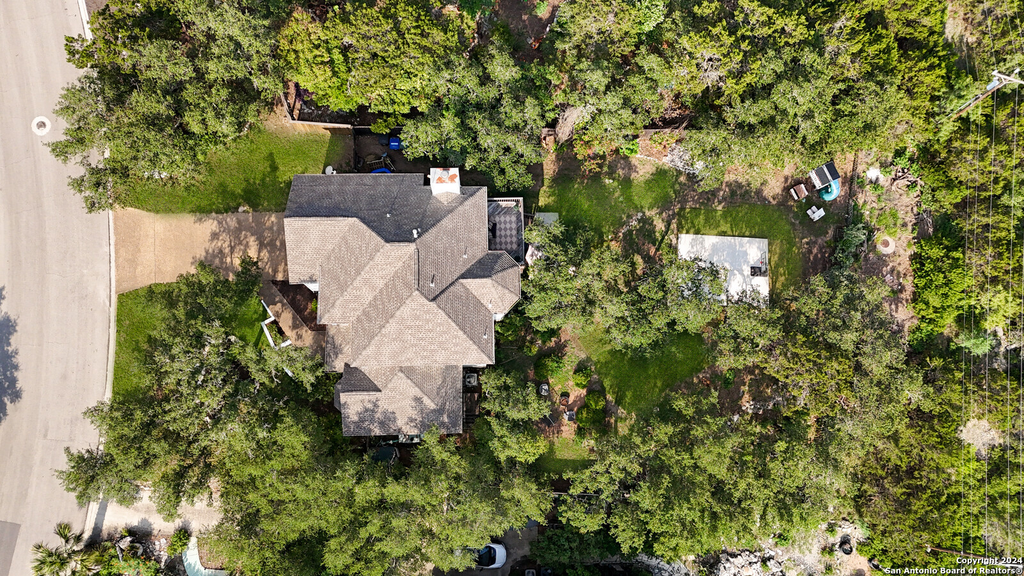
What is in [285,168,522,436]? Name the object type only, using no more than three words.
house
